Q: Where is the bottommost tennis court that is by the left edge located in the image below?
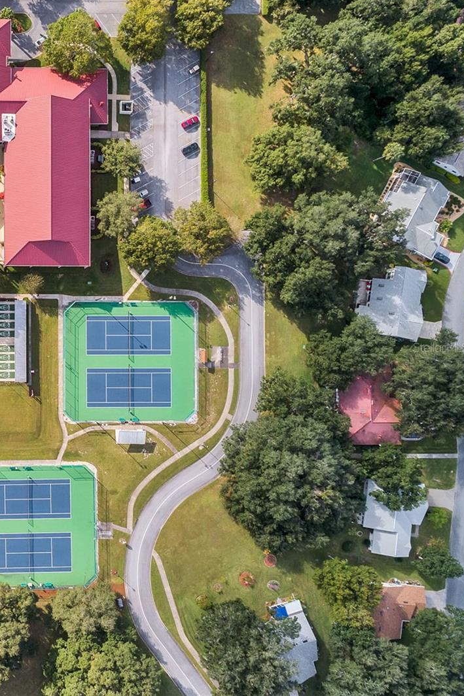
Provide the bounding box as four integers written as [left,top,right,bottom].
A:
[0,465,98,588]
